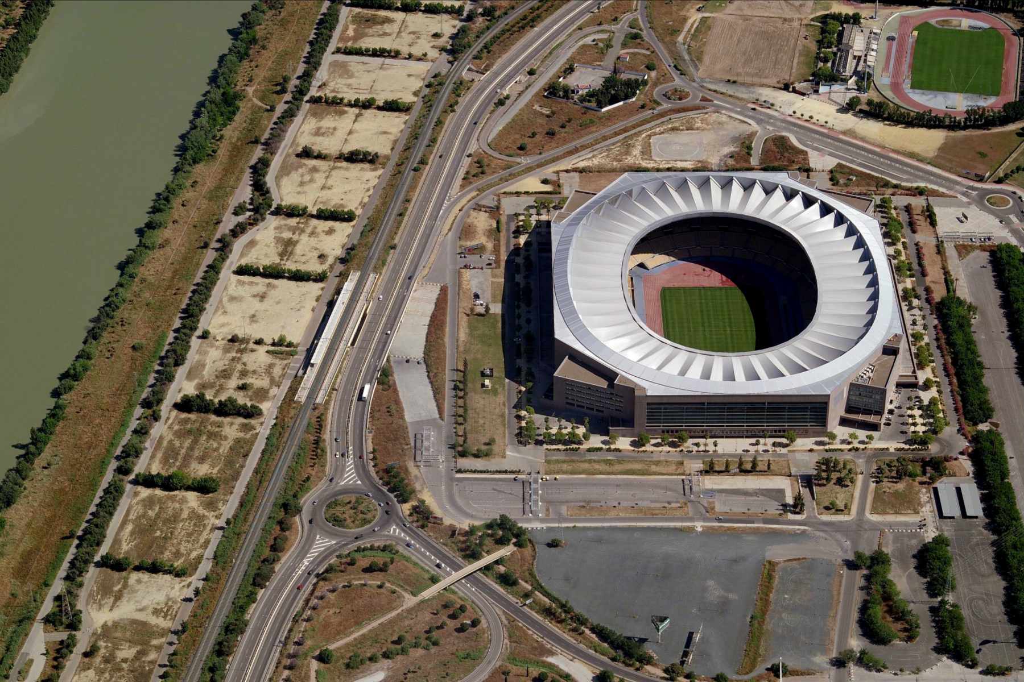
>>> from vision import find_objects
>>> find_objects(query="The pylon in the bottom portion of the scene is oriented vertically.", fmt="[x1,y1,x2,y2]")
[56,580,73,627]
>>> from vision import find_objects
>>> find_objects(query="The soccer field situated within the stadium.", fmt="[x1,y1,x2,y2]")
[659,286,778,351]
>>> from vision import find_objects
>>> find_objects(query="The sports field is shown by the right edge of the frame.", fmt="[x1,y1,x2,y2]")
[910,22,1005,96]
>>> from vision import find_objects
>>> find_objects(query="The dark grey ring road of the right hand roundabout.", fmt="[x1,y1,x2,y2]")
[967,184,1024,218]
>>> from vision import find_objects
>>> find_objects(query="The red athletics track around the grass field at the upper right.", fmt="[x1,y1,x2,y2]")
[891,8,1017,117]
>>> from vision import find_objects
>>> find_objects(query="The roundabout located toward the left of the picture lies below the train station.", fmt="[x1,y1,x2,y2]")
[301,482,402,544]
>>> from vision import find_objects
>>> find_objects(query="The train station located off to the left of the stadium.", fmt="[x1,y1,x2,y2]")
[295,272,379,404]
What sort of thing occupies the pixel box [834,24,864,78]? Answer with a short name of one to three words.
building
